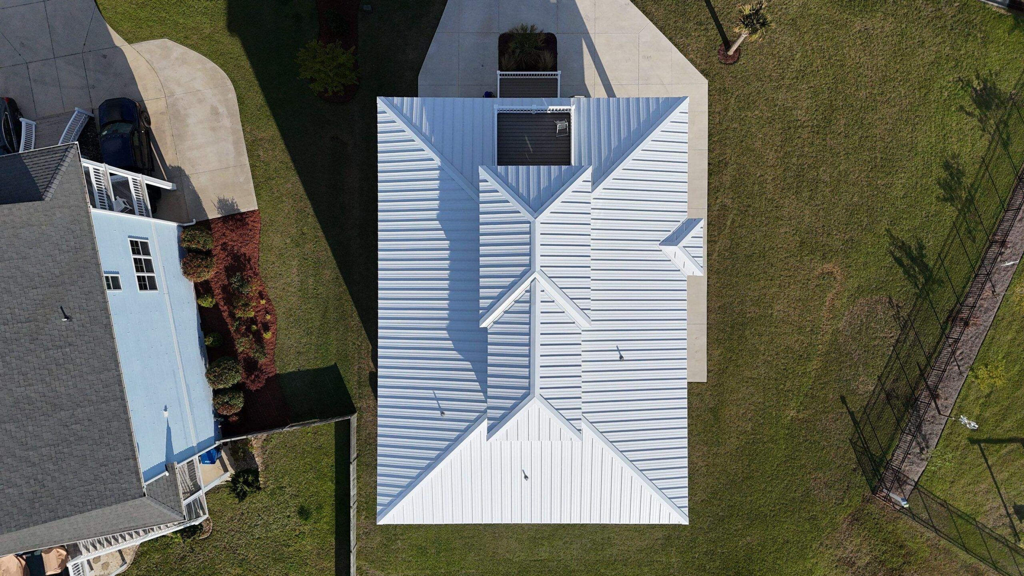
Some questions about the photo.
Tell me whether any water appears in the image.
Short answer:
No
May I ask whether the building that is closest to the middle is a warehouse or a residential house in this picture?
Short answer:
residential house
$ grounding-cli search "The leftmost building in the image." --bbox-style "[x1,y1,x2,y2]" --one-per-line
[0,93,230,576]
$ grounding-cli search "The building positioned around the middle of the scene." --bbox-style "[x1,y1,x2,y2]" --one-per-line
[377,70,703,524]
